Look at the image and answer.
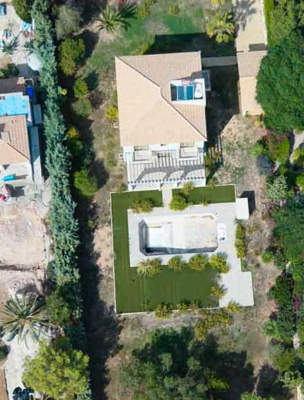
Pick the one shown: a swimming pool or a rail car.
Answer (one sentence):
This aerial view contains a swimming pool.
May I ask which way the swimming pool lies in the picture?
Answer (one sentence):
The swimming pool is oriented from left to right.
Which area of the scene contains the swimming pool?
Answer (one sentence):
The swimming pool is in the center part of the image.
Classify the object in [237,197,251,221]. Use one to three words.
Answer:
building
